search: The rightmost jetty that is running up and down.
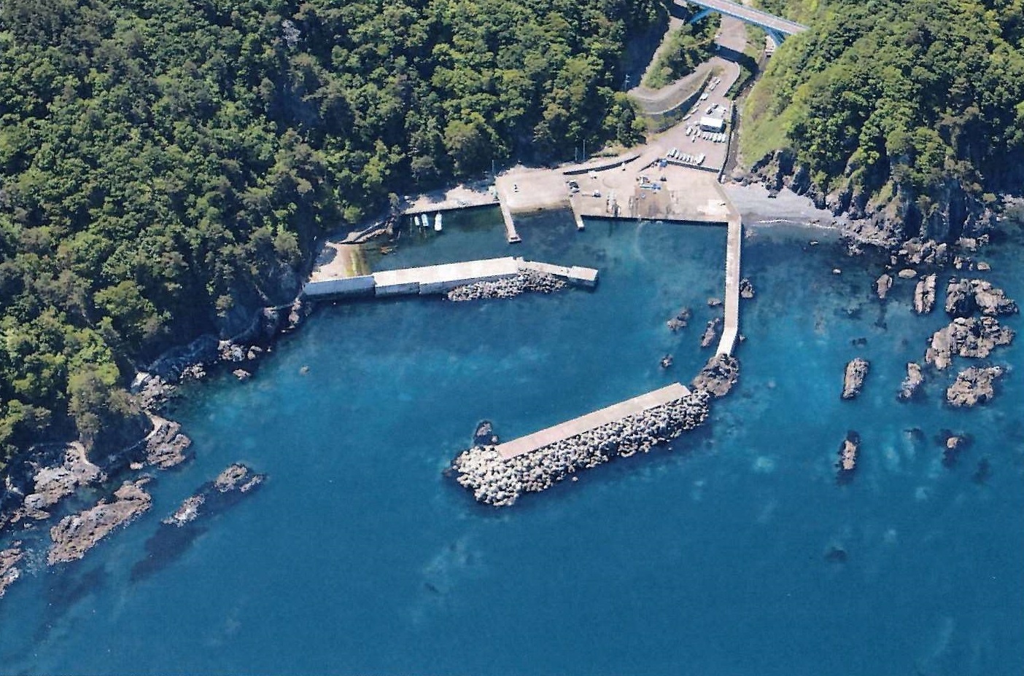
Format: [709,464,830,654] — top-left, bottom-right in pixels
[716,213,742,361]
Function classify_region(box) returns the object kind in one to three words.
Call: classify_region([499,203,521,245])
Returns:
pier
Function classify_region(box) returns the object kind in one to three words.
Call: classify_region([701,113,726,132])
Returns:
shed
